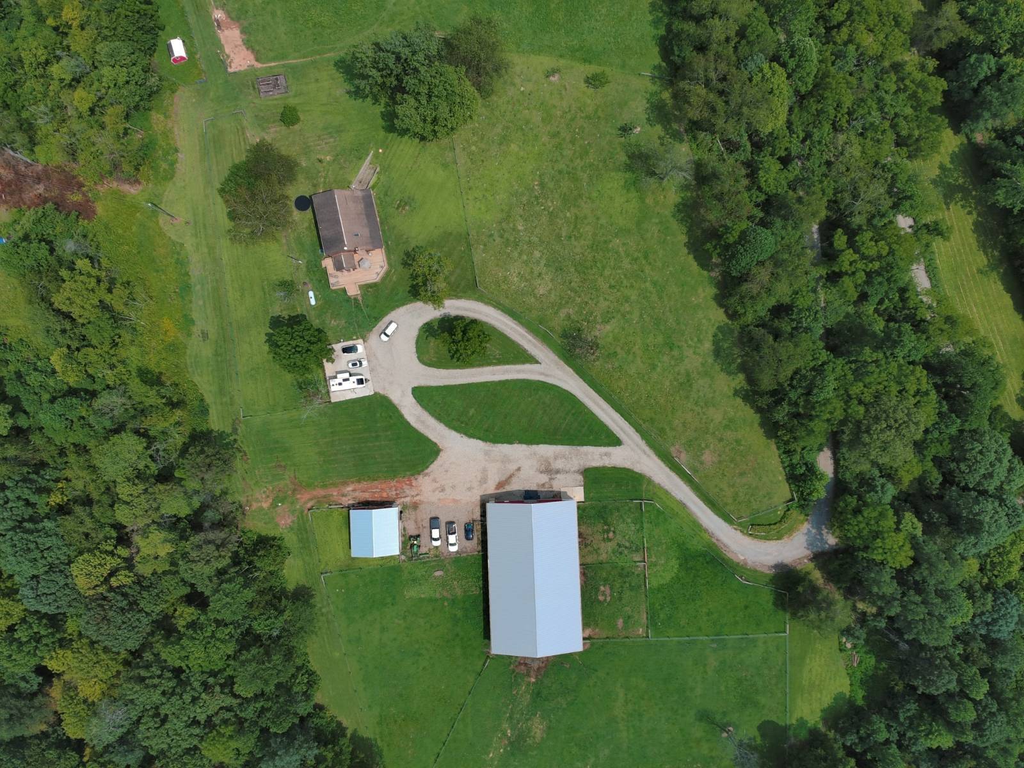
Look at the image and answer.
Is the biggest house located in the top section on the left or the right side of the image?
left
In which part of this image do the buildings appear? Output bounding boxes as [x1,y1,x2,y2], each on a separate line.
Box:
[312,186,384,272]
[486,499,582,657]
[350,507,400,557]
[166,39,187,64]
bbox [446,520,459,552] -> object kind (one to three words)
vehicle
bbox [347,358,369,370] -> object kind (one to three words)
vehicle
